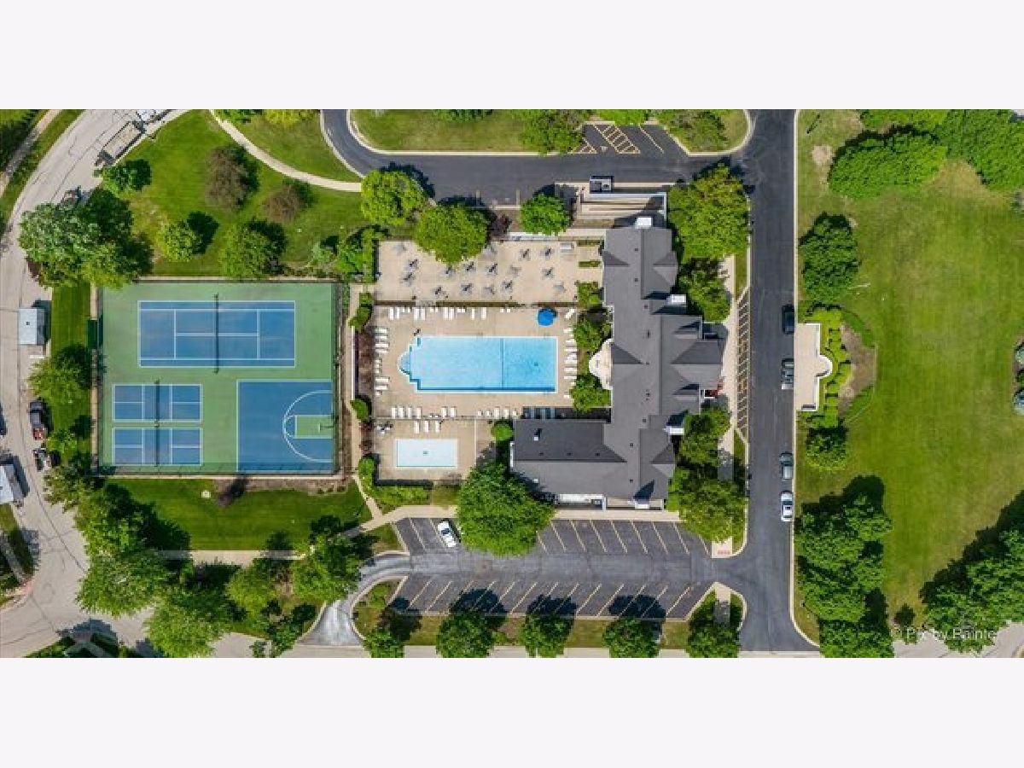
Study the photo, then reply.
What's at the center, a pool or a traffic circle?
pool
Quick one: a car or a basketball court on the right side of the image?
car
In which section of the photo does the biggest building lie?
center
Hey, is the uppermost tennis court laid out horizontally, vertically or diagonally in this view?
horizontally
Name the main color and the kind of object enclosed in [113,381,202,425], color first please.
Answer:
blue sports court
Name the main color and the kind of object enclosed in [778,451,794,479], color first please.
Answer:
gray car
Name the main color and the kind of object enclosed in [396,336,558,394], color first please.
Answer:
blue swimming pool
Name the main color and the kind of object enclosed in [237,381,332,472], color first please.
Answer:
blue basketball court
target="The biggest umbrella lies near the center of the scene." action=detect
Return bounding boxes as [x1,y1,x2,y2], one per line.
[537,308,556,326]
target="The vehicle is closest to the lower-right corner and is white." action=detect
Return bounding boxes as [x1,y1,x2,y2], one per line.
[779,491,794,522]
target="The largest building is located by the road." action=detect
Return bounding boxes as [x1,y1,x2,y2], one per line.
[513,217,725,509]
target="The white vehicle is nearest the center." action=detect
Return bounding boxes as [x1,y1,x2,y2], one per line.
[437,519,459,550]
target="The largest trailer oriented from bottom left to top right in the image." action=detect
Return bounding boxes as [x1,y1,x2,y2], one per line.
[100,118,144,163]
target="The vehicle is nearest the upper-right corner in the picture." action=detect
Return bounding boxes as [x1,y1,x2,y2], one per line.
[780,306,796,334]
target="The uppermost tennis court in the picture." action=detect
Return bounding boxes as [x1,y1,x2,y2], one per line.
[138,293,296,373]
